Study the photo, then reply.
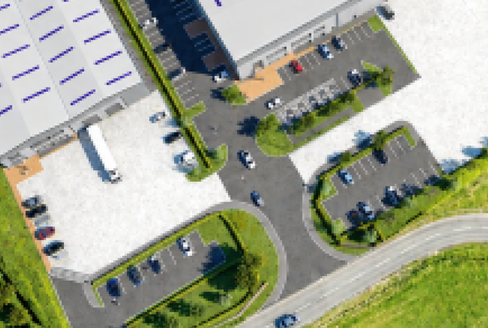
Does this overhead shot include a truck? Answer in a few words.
Yes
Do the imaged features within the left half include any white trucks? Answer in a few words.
Yes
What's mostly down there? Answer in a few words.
paved ground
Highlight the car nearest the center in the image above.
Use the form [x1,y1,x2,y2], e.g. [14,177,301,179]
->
[242,151,256,169]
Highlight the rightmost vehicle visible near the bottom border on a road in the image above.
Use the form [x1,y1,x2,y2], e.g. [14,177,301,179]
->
[275,313,303,328]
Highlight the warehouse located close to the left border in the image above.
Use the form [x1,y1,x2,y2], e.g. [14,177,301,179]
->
[0,0,145,169]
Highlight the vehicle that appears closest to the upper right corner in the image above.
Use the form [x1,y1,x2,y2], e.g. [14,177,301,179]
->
[380,0,395,18]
